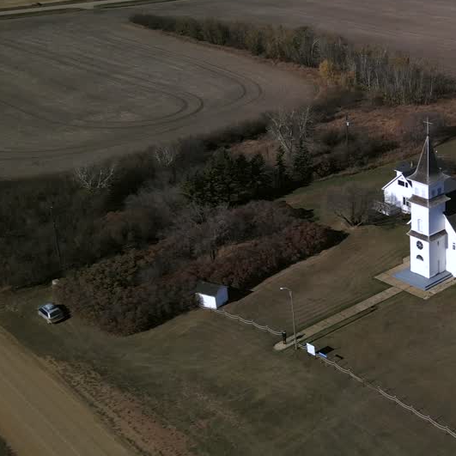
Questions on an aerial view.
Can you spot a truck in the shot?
No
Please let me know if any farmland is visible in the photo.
Yes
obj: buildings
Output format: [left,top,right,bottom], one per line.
[197,281,231,310]
[393,111,456,290]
